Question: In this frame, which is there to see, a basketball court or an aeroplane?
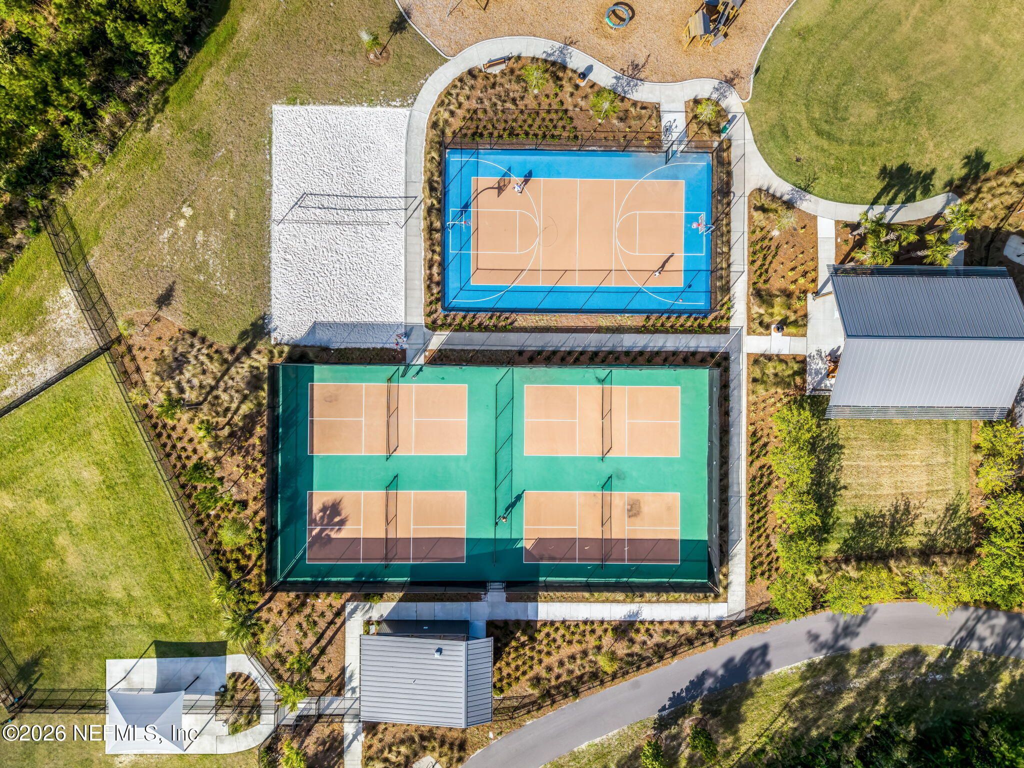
basketball court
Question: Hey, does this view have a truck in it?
No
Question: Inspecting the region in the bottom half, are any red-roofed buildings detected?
No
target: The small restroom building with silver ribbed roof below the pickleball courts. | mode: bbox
[359,612,494,728]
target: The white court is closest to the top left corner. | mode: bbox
[270,104,413,349]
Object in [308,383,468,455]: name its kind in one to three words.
sports court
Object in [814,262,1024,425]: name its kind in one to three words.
building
